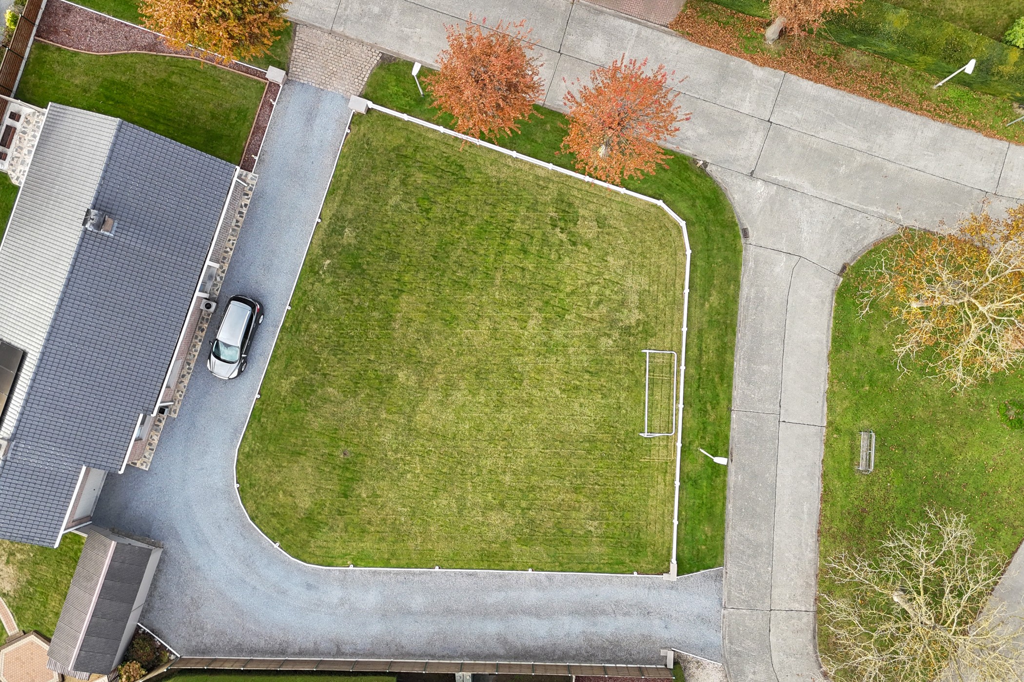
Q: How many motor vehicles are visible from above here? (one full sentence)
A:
Just 1 motor vehicle appears in this view.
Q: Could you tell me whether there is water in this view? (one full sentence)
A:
No, there's no water in this view.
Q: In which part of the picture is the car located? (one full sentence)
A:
The car sits in the left section of the image.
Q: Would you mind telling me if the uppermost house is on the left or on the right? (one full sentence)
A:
The uppermost house sits on the left side.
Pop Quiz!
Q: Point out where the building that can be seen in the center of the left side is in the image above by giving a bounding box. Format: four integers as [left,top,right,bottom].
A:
[0,101,246,551]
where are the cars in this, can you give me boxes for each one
[205,293,264,382]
